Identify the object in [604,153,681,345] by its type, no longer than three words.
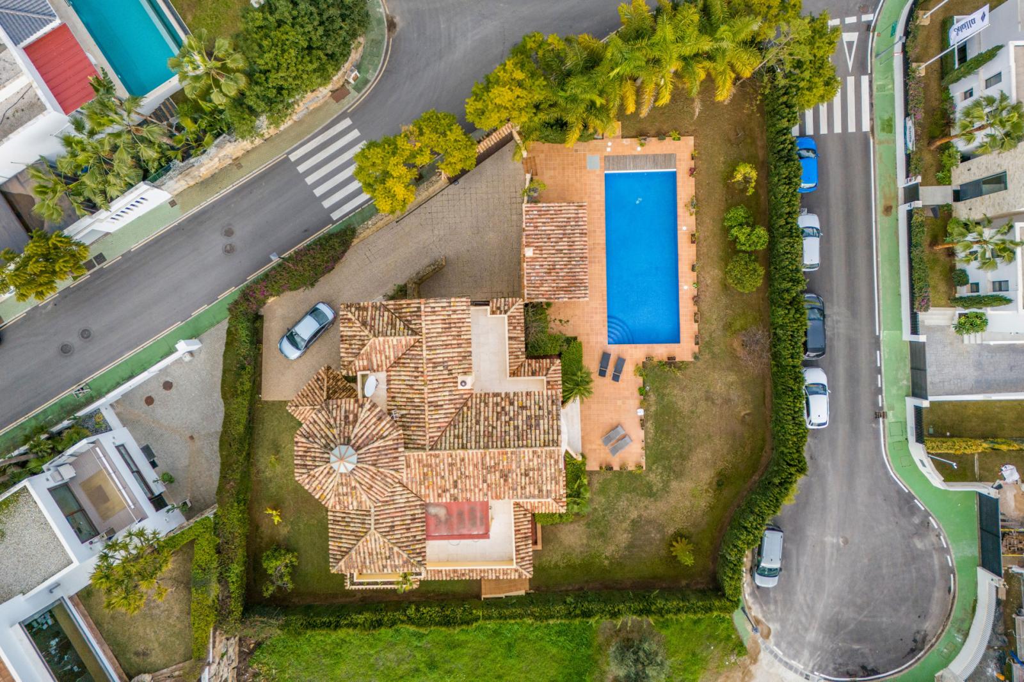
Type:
swimming pool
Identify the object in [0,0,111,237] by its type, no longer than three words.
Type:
house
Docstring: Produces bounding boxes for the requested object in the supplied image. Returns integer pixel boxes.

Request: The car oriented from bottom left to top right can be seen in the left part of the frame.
[276,298,339,362]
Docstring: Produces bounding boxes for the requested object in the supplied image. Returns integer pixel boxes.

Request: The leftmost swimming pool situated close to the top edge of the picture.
[54,0,193,109]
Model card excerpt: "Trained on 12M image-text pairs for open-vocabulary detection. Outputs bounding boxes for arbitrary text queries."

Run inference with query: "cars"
[751,526,790,589]
[797,214,825,272]
[799,366,834,431]
[276,298,339,362]
[795,137,823,194]
[797,293,831,361]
